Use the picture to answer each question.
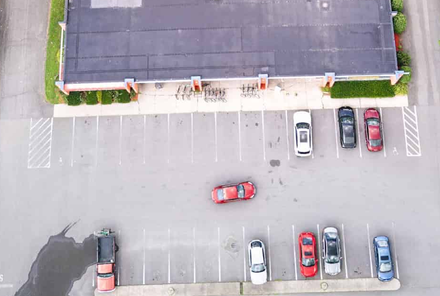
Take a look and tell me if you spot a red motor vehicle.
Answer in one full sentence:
Yes, the frame does contain a red motor vehicle.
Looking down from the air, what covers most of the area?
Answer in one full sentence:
For the most part, this view shows paved ground.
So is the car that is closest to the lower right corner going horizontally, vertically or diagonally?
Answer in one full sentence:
The car that is closest to the lower right corner is oriented vertically.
